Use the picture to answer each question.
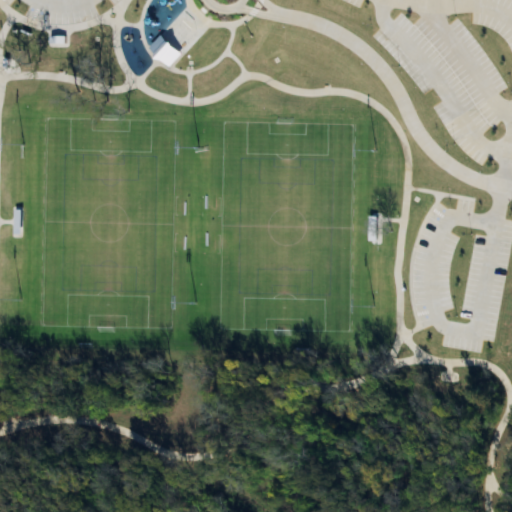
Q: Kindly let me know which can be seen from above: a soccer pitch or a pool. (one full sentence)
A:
The image shows a soccer pitch.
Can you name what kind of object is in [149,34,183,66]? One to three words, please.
building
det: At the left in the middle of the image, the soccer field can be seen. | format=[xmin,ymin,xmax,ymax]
[42,118,180,330]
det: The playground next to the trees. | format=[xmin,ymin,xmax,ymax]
[122,0,186,75]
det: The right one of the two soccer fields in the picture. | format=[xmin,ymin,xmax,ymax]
[218,118,356,333]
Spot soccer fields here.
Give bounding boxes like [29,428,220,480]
[42,118,180,330]
[218,118,356,333]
